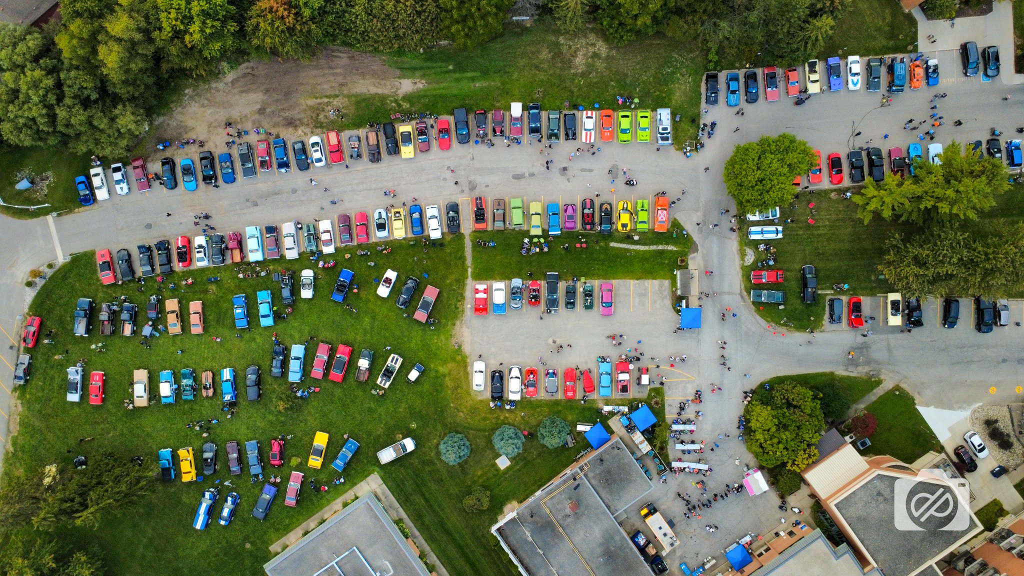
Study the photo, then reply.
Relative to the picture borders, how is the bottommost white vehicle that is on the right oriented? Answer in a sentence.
The bottommost white vehicle that is on the right runs on a diagonal in the image.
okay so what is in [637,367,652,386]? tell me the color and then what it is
white work vehicle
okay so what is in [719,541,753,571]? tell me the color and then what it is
blue tent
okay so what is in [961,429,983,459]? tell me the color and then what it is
white car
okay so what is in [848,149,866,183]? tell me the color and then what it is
black vehicle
